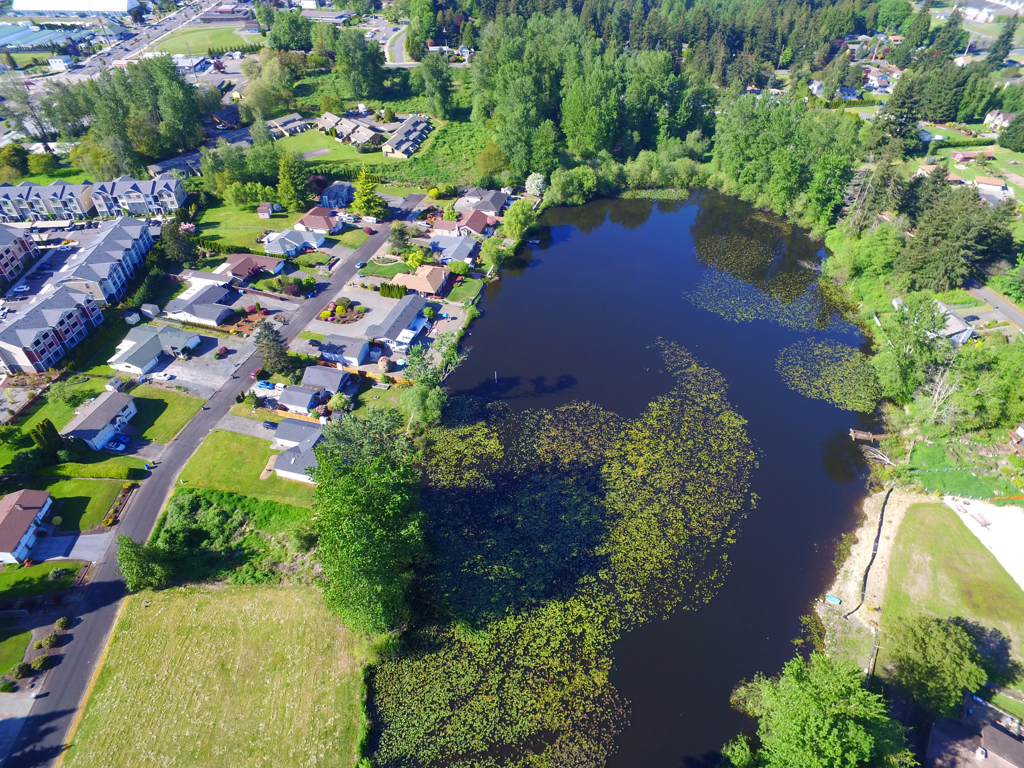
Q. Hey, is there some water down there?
Yes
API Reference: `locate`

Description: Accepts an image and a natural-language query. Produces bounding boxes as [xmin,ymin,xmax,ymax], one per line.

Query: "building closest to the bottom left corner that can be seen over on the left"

[0,487,60,563]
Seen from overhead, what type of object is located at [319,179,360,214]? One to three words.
house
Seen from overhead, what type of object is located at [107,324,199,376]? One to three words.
building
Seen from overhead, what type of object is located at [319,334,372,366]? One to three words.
building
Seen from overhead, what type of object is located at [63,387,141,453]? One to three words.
house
